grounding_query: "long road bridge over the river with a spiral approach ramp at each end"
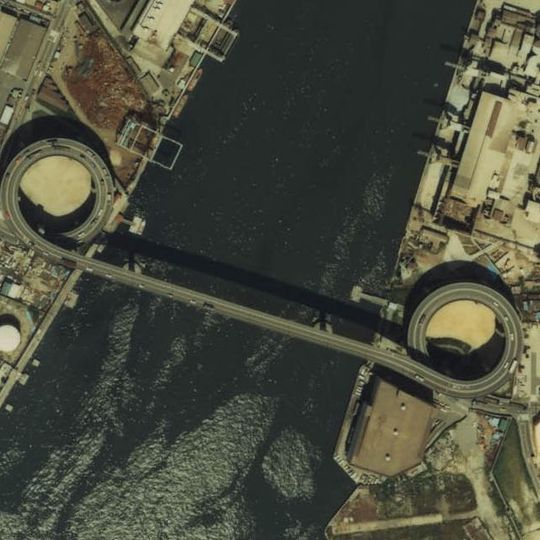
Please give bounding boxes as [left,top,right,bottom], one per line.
[0,133,540,417]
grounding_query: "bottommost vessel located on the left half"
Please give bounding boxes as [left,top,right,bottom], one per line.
[176,94,191,118]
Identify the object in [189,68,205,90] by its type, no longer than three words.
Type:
vessel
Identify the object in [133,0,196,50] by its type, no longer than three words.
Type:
shed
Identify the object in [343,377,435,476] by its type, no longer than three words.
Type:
building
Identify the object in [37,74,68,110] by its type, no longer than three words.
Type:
shed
